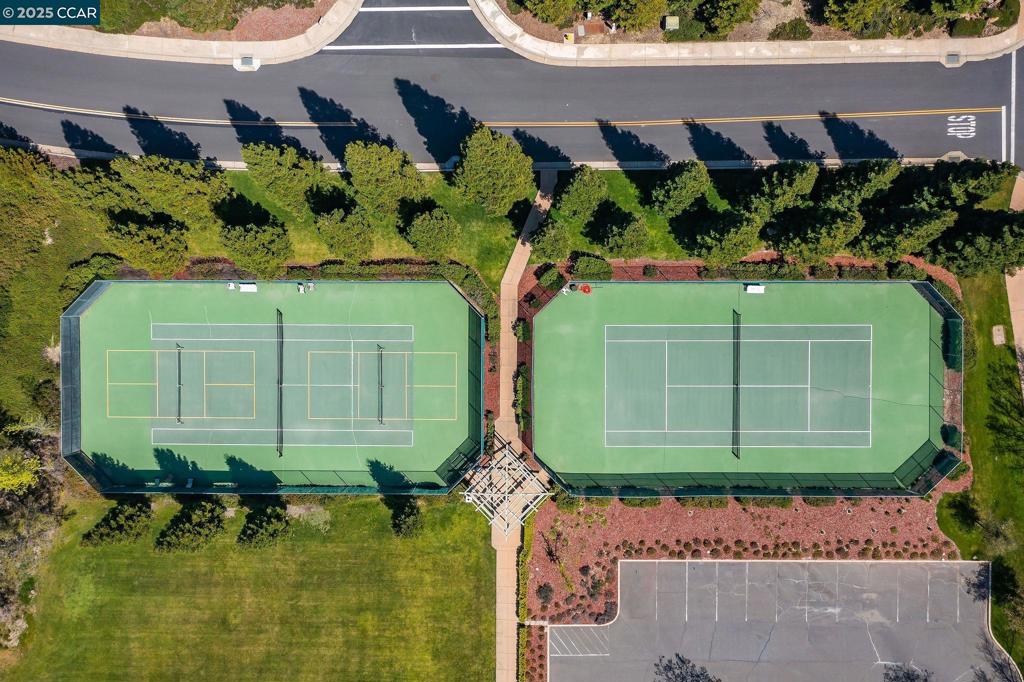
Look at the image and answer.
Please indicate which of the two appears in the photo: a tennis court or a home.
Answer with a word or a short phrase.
tennis court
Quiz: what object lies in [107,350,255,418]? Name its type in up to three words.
sports court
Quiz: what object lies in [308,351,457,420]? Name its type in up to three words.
sports court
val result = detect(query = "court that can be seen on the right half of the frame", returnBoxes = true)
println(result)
[534,284,943,489]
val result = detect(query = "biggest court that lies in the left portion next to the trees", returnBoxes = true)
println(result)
[80,283,484,488]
